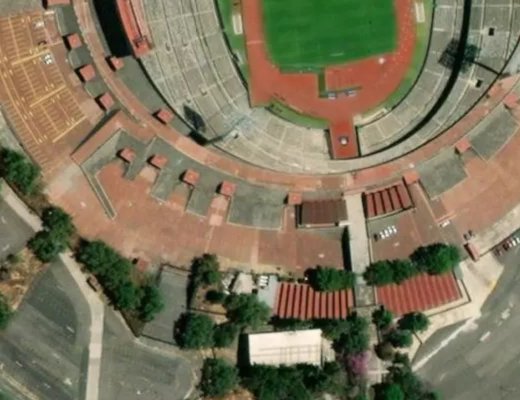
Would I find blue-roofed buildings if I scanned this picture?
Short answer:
No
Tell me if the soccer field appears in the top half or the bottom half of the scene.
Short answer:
top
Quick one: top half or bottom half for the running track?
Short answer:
top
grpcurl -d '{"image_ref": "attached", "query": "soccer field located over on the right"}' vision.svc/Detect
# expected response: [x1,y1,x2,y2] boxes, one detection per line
[262,0,398,97]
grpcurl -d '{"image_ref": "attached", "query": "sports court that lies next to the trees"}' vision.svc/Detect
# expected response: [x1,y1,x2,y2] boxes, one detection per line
[140,264,190,346]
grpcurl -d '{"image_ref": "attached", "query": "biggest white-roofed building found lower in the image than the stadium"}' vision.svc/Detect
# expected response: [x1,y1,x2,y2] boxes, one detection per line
[247,328,323,368]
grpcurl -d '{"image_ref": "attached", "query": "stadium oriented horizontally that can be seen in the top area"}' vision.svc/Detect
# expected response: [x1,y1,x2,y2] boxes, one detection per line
[114,0,520,174]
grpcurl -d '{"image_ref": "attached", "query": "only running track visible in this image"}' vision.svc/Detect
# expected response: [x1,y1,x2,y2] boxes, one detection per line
[242,0,415,122]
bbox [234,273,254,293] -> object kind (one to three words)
shed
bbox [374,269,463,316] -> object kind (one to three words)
building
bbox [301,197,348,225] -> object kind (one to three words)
building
